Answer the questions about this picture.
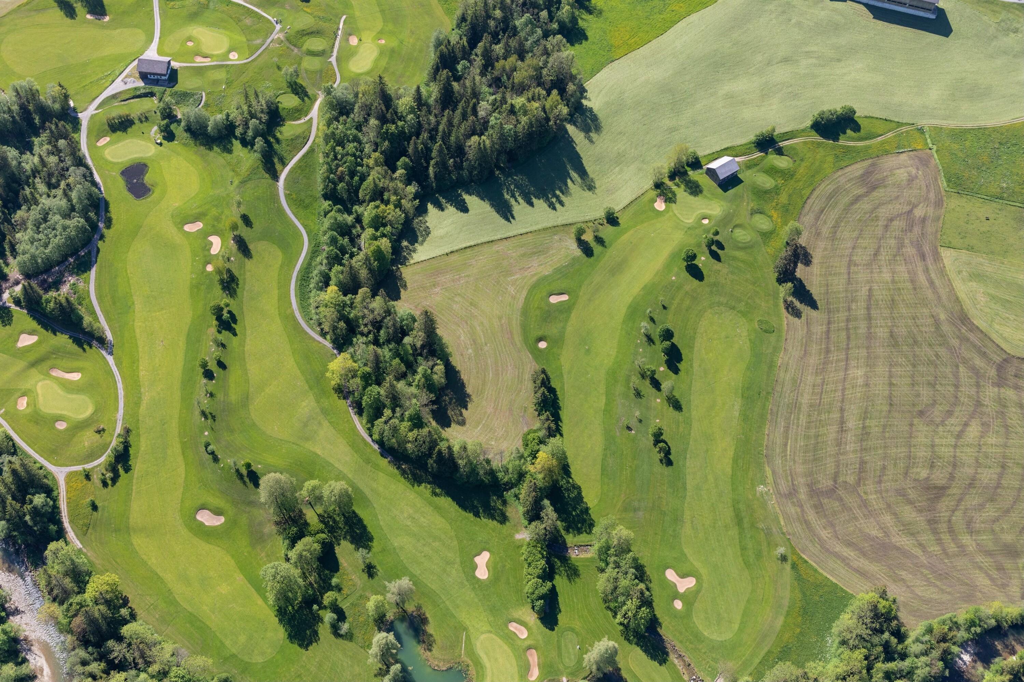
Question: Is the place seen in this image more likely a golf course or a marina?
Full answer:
It's a golf course.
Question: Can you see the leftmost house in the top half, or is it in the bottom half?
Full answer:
You can find the leftmost house in the top half.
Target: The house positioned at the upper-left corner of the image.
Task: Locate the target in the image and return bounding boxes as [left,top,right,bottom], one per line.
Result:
[136,54,173,82]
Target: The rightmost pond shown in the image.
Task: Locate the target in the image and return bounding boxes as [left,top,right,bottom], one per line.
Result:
[392,616,467,682]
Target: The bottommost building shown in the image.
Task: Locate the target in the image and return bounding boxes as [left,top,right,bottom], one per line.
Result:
[706,155,740,184]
